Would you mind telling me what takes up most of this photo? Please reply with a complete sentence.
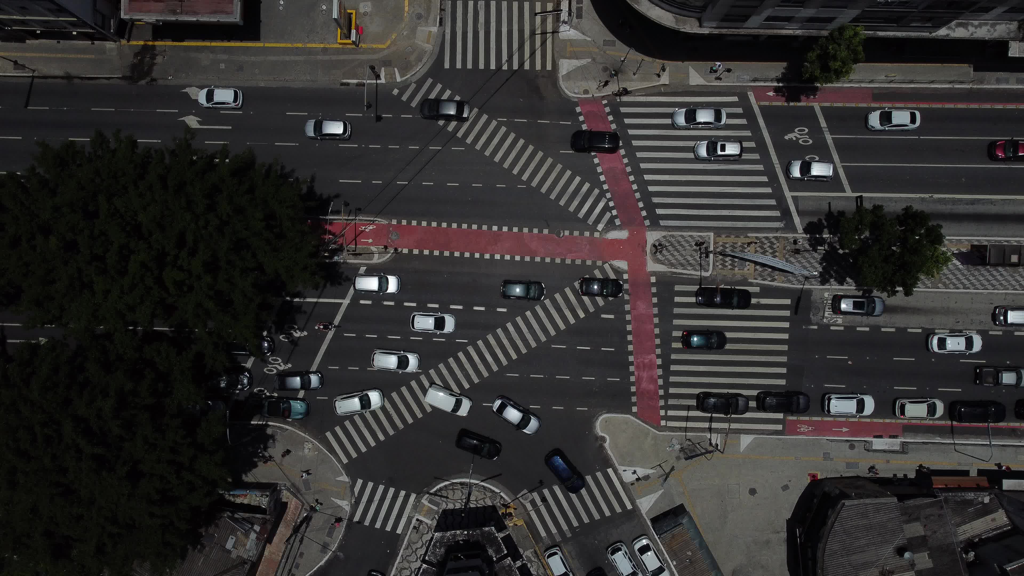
The bulk of the photo consists of paved ground.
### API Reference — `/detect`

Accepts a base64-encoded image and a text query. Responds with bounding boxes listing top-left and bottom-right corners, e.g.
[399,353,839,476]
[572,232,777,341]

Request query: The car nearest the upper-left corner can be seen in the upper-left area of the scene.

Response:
[199,85,245,111]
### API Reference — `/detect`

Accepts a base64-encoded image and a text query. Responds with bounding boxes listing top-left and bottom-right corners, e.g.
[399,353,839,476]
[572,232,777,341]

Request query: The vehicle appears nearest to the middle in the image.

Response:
[501,278,545,302]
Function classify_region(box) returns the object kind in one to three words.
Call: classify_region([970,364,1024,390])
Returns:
vehicle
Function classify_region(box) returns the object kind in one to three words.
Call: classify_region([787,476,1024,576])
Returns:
building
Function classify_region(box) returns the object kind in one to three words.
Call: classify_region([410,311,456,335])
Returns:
car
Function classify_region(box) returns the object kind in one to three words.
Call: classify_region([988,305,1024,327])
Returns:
car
